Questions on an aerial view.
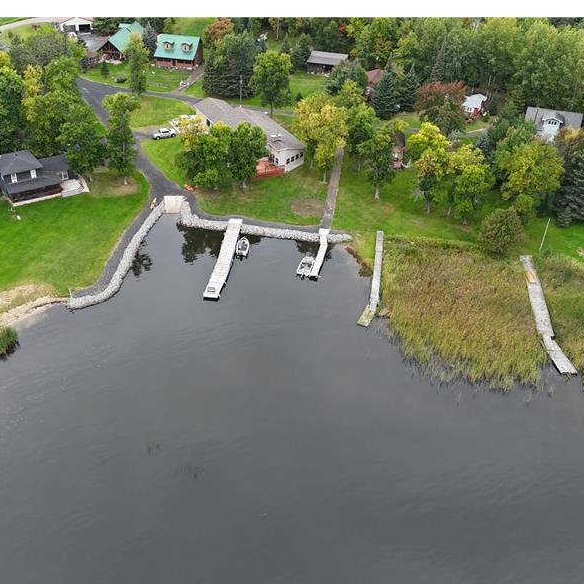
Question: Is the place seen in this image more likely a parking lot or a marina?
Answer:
marina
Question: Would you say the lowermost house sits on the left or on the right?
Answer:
left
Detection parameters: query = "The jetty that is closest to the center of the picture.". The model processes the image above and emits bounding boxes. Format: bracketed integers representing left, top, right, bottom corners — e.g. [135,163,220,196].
[308,230,330,279]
